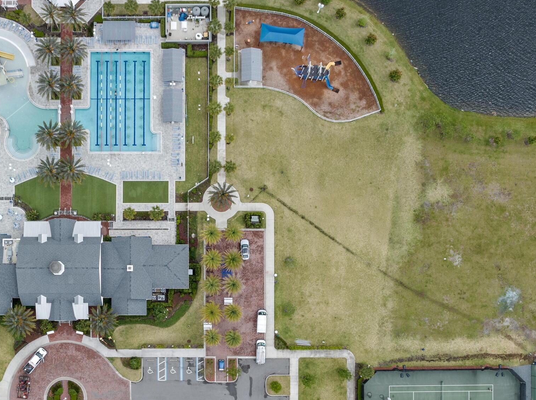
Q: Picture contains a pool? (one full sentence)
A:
Yes, a pool appears in the view.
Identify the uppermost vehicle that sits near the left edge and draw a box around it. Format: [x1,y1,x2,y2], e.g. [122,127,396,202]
[25,348,45,373]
